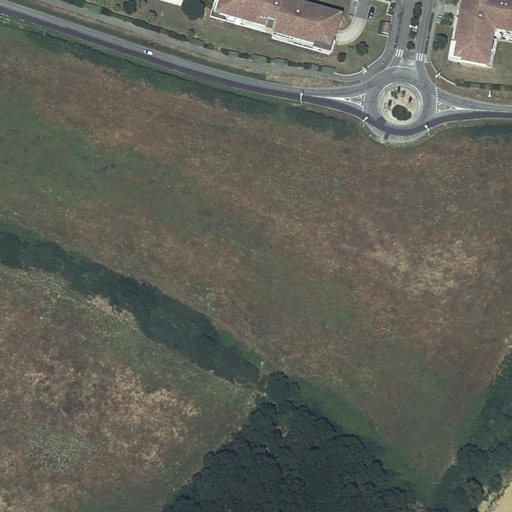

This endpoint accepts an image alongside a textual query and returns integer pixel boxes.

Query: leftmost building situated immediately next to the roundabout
[210,0,342,56]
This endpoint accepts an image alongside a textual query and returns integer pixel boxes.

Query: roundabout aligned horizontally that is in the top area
[309,56,512,143]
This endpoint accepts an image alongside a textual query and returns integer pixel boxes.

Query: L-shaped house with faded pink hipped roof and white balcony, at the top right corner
[448,0,512,68]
